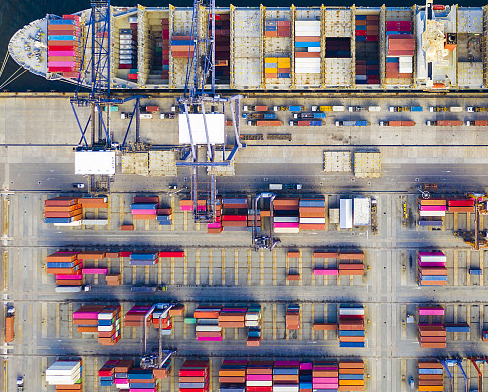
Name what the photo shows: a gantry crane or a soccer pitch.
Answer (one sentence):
The image shows a gantry crane.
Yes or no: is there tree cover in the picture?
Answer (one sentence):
No, there's no tree cover in this view.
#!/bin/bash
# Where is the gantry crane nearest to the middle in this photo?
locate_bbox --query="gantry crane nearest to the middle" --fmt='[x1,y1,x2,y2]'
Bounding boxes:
[254,193,278,258]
